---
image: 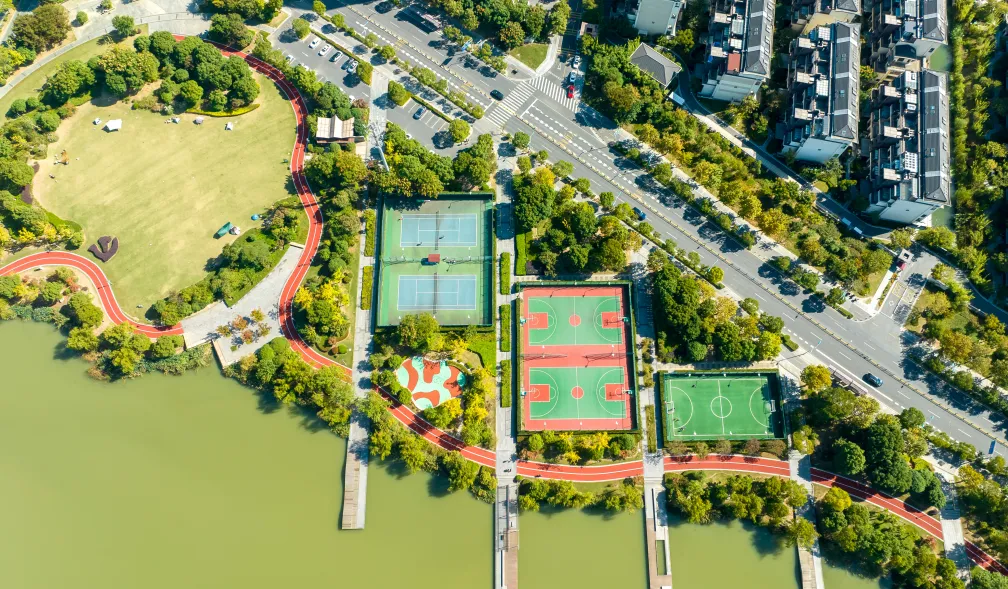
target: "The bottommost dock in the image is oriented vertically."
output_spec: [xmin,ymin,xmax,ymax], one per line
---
[797,546,824,589]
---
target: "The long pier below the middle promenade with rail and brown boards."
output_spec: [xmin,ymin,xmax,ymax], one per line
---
[494,488,518,589]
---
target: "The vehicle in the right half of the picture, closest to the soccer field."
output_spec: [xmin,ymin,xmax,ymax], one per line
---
[865,371,883,386]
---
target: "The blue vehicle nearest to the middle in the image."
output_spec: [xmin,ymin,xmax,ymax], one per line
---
[632,206,647,219]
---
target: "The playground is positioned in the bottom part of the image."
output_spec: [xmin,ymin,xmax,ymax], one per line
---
[396,356,468,410]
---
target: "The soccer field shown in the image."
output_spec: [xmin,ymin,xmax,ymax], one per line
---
[662,374,780,441]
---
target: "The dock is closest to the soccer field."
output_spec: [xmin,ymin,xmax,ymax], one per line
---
[646,492,672,589]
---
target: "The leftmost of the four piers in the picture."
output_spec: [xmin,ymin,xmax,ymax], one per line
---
[342,441,370,529]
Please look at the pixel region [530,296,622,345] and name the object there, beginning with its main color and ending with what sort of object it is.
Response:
green basketball court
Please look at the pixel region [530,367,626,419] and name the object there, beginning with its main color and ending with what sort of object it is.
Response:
green basketball court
